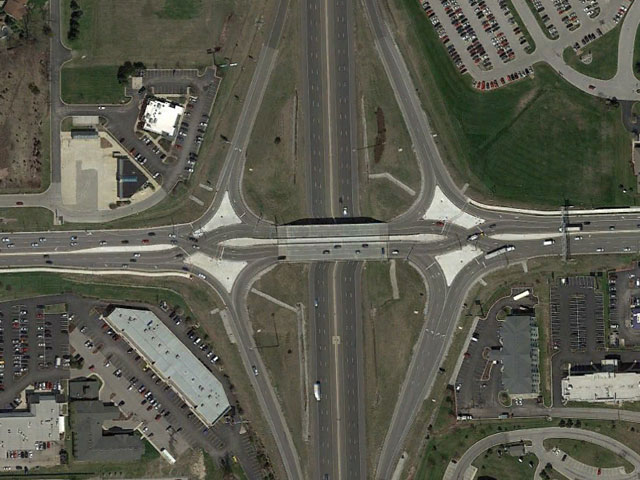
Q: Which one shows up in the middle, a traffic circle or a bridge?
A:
bridge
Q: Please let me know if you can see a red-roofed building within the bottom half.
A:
No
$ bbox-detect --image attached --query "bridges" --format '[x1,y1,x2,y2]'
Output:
[278,222,389,261]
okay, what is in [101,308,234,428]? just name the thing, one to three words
building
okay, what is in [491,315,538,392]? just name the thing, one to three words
building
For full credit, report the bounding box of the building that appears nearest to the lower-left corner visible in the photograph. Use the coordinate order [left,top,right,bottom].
[0,394,69,451]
